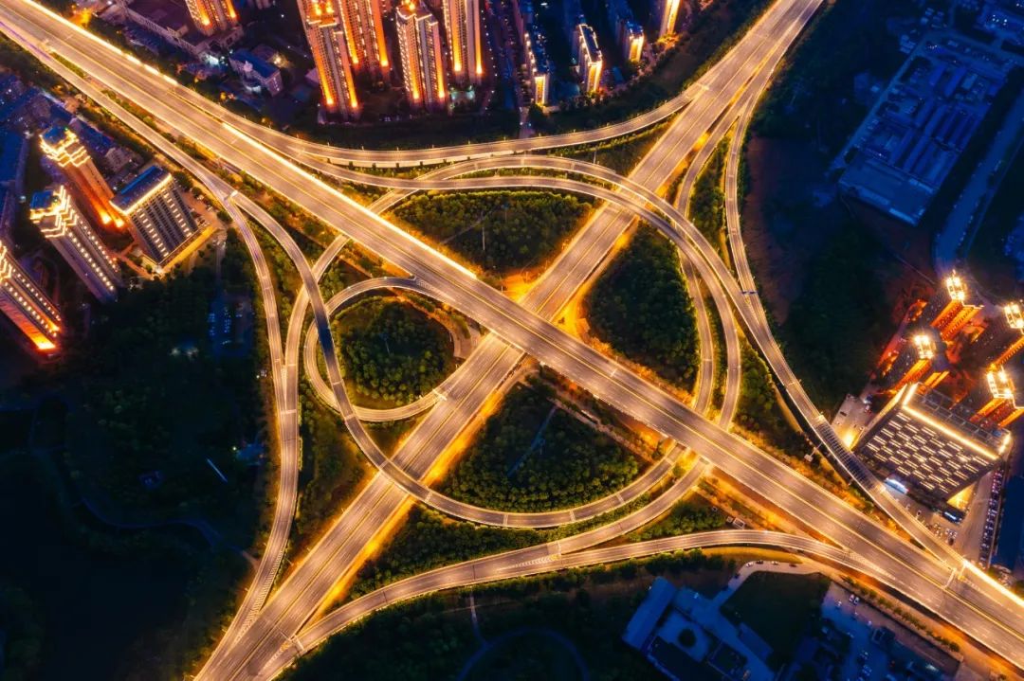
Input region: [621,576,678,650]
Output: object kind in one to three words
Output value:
building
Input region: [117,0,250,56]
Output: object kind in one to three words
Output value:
building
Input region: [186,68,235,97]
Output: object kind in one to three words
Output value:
shed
